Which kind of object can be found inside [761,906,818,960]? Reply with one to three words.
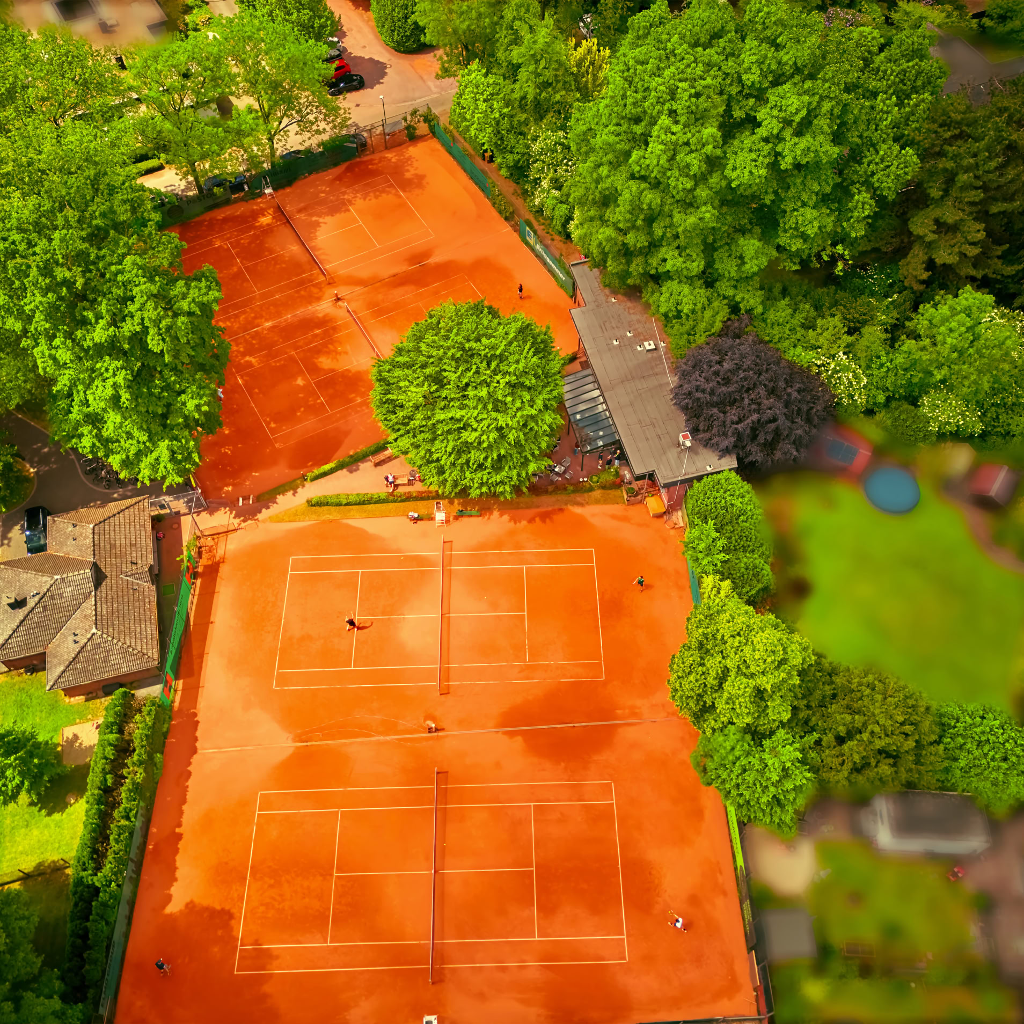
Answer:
shed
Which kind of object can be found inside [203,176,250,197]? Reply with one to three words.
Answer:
car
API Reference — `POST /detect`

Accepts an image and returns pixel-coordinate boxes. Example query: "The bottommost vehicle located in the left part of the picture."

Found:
[11,503,52,559]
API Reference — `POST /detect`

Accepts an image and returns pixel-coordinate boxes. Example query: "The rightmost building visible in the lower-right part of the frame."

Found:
[871,794,993,848]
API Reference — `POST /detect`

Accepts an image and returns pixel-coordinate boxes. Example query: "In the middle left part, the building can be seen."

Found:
[0,494,170,700]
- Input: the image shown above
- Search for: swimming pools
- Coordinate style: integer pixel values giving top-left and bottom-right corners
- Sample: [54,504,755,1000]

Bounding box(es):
[862,463,922,513]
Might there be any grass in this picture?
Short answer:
Yes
